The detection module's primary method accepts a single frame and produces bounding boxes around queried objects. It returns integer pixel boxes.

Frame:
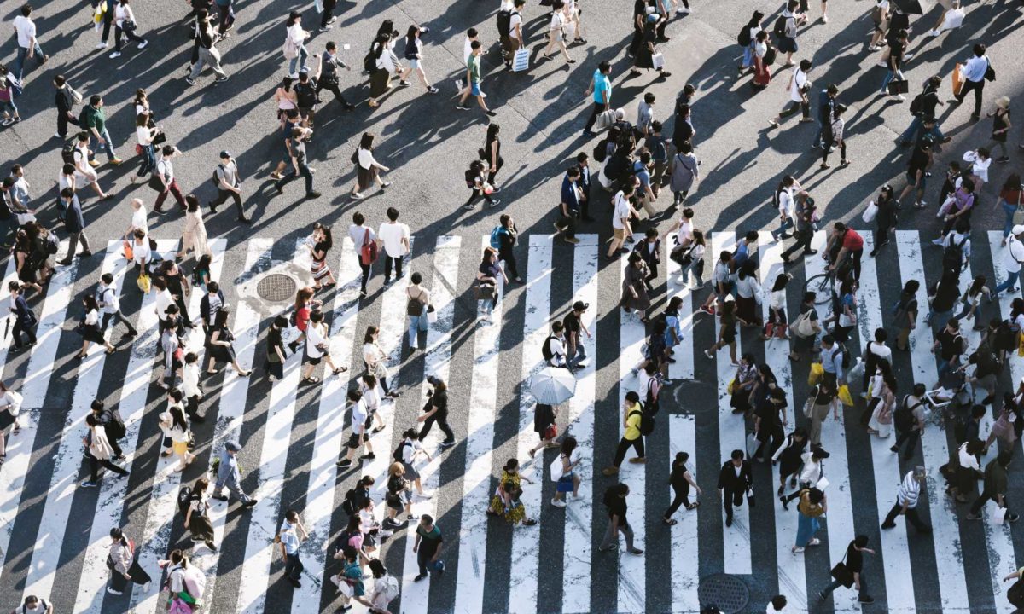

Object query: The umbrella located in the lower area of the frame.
[524,367,574,405]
